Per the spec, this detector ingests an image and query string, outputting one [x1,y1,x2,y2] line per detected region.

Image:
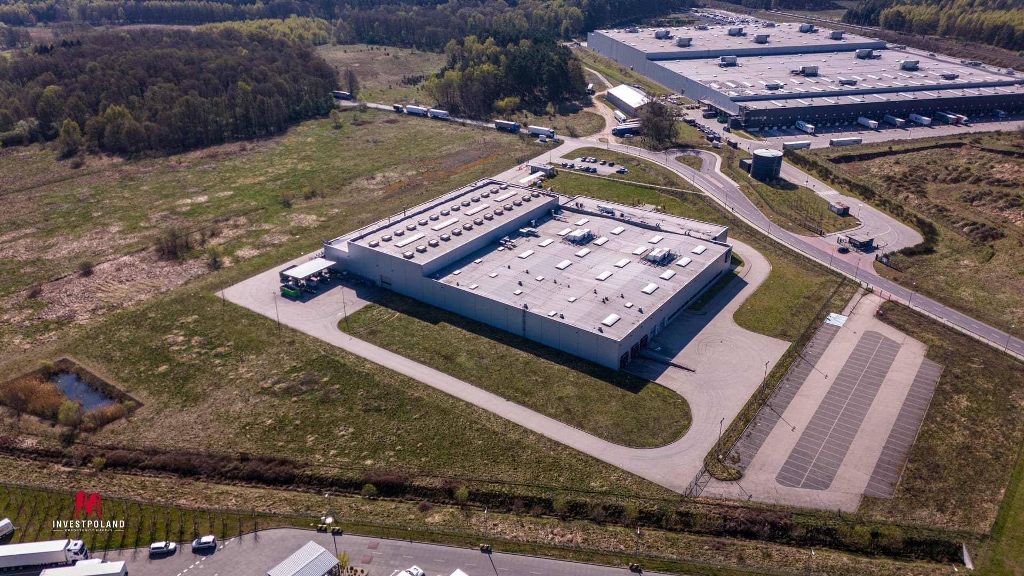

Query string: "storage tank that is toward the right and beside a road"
[745,146,785,185]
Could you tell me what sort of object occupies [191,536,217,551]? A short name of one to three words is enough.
car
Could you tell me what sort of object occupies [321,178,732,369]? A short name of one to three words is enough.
building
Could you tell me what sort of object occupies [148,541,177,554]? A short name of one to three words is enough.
vehicle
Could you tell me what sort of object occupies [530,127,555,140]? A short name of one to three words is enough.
vehicle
